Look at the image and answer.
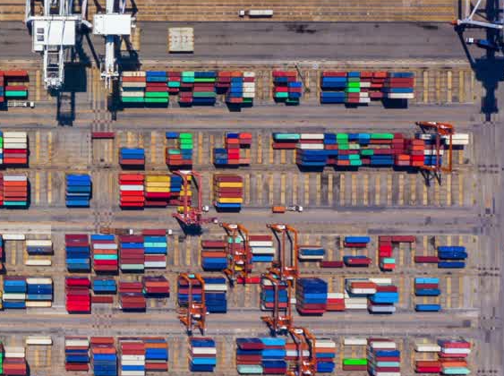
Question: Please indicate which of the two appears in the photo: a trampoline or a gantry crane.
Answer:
gantry crane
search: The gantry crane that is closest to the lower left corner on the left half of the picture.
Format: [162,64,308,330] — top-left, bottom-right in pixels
[174,267,206,326]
